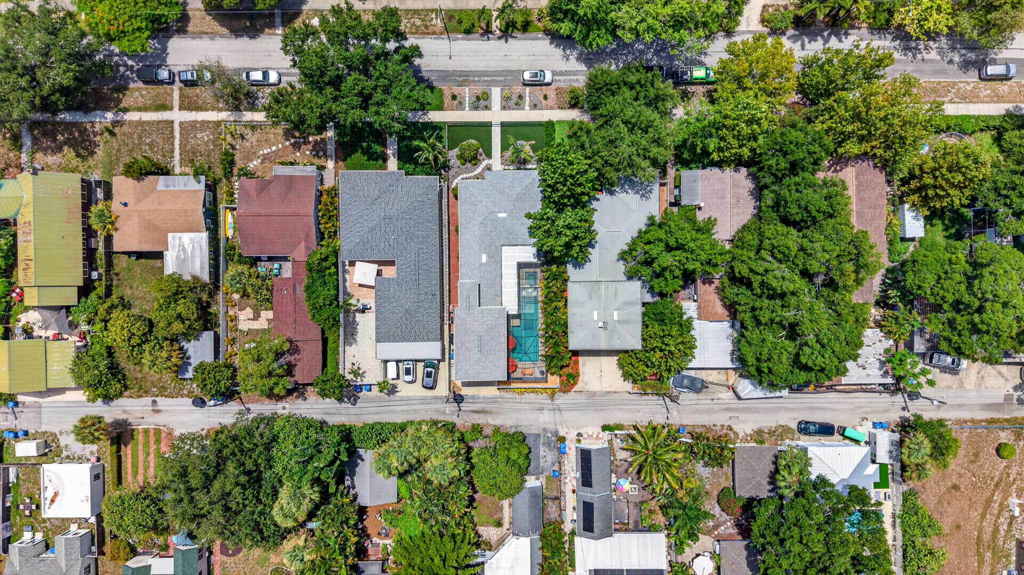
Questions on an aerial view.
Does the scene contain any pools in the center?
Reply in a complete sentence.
Yes, I can see a pool in the center.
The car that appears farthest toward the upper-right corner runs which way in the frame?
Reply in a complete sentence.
Seen from above, the car that appears farthest toward the upper-right corner lies from left to right.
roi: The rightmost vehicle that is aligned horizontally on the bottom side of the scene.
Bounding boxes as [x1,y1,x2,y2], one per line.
[924,352,964,372]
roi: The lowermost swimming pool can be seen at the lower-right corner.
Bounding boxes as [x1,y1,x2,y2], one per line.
[843,507,886,534]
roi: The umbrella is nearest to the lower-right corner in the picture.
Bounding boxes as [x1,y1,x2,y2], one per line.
[692,554,713,575]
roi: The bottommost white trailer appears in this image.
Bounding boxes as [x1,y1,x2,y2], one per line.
[16,436,60,456]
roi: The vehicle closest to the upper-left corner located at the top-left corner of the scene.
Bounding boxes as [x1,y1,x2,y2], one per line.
[136,66,175,85]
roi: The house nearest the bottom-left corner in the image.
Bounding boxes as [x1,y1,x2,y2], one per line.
[9,527,100,575]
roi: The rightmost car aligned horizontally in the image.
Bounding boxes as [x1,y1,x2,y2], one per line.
[976,62,1014,82]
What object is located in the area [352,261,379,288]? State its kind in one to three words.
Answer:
umbrella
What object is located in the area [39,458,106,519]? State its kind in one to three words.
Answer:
building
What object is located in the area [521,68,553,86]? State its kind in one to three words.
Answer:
car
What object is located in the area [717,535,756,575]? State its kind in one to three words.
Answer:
house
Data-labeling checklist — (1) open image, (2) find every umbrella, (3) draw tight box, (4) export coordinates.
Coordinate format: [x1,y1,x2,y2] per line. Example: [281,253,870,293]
[692,554,713,575]
[615,476,630,491]
[507,357,519,374]
[352,261,379,288]
[506,336,517,351]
